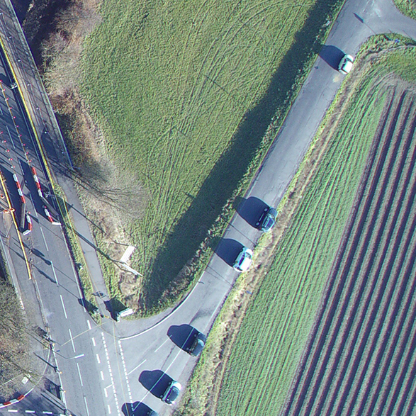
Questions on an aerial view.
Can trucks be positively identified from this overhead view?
No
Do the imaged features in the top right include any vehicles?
Yes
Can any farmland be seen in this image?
Yes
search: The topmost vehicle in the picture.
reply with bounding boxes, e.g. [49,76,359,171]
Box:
[336,53,353,76]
